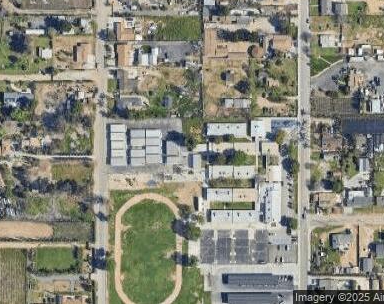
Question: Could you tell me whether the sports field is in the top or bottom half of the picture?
bottom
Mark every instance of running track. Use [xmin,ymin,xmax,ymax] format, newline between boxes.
[114,193,183,304]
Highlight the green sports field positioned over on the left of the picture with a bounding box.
[121,198,177,304]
